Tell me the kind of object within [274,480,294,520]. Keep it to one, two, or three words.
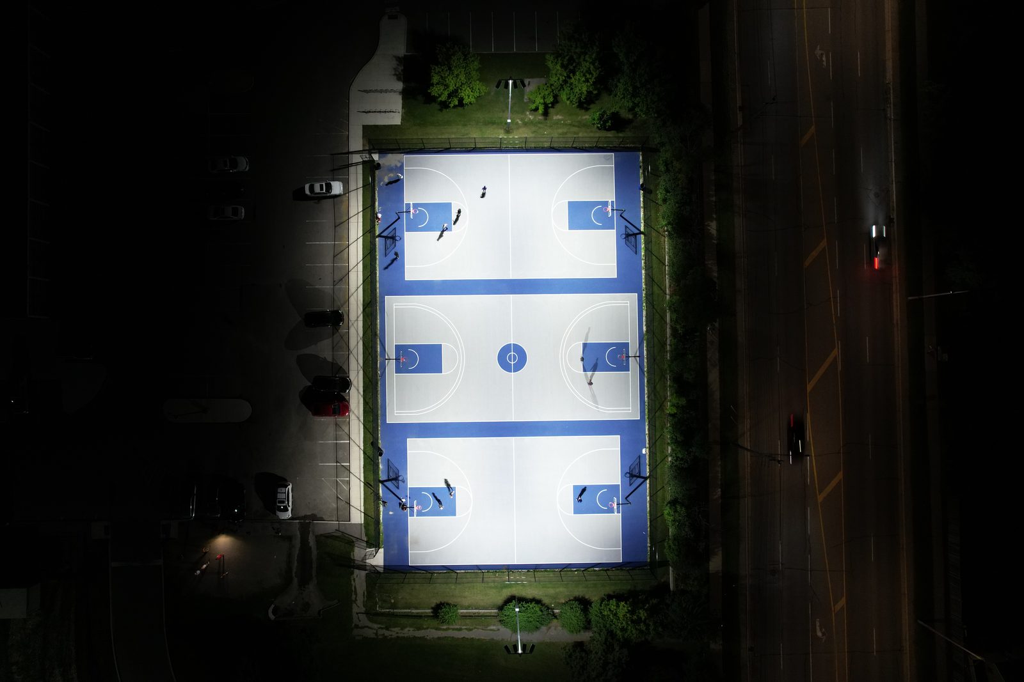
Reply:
car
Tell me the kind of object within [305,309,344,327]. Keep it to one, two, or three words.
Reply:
car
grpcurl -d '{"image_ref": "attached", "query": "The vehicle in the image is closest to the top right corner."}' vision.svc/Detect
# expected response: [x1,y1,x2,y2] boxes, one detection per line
[867,227,888,264]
